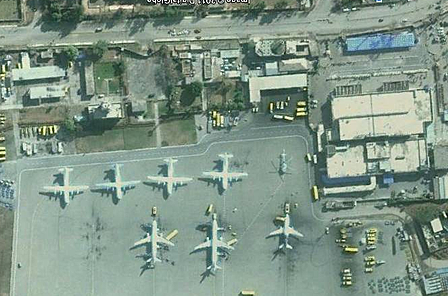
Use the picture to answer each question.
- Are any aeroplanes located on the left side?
Yes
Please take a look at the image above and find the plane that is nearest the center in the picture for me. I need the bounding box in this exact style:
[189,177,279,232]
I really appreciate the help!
[203,153,249,189]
